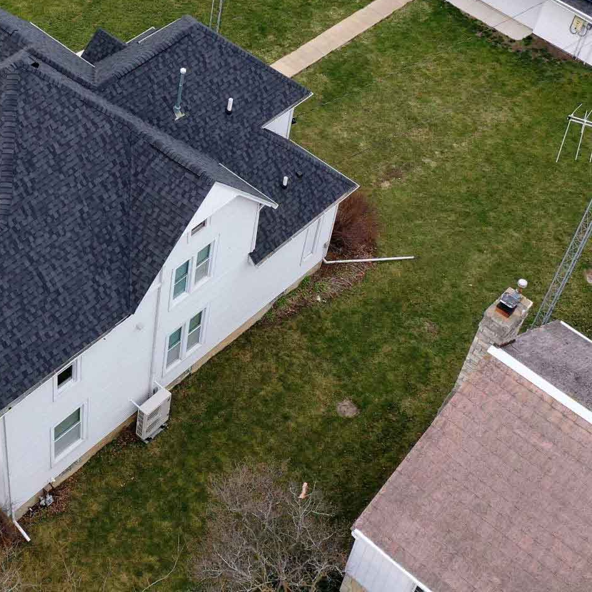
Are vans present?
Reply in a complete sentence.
No, no van can be seen from above.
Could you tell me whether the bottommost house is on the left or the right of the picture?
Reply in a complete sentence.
The bottommost house sits on the right side.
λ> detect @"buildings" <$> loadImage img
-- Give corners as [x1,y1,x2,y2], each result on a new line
[345,283,592,592]
[485,0,592,61]
[0,6,414,542]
